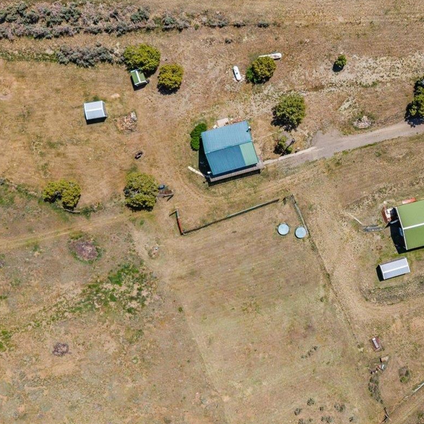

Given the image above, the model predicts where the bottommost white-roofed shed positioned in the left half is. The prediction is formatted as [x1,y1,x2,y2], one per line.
[85,101,108,120]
